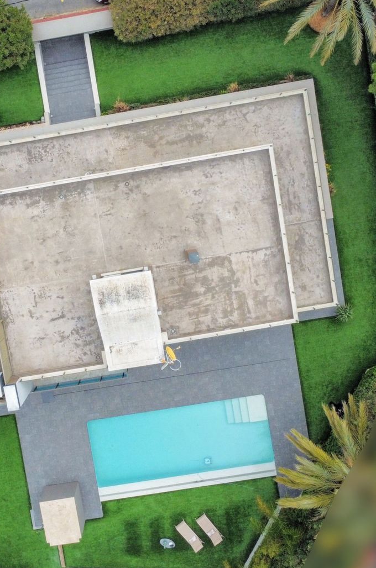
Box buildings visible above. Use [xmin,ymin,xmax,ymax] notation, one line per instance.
[40,482,86,546]
[0,80,338,411]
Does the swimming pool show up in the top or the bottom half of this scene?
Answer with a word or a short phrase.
bottom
